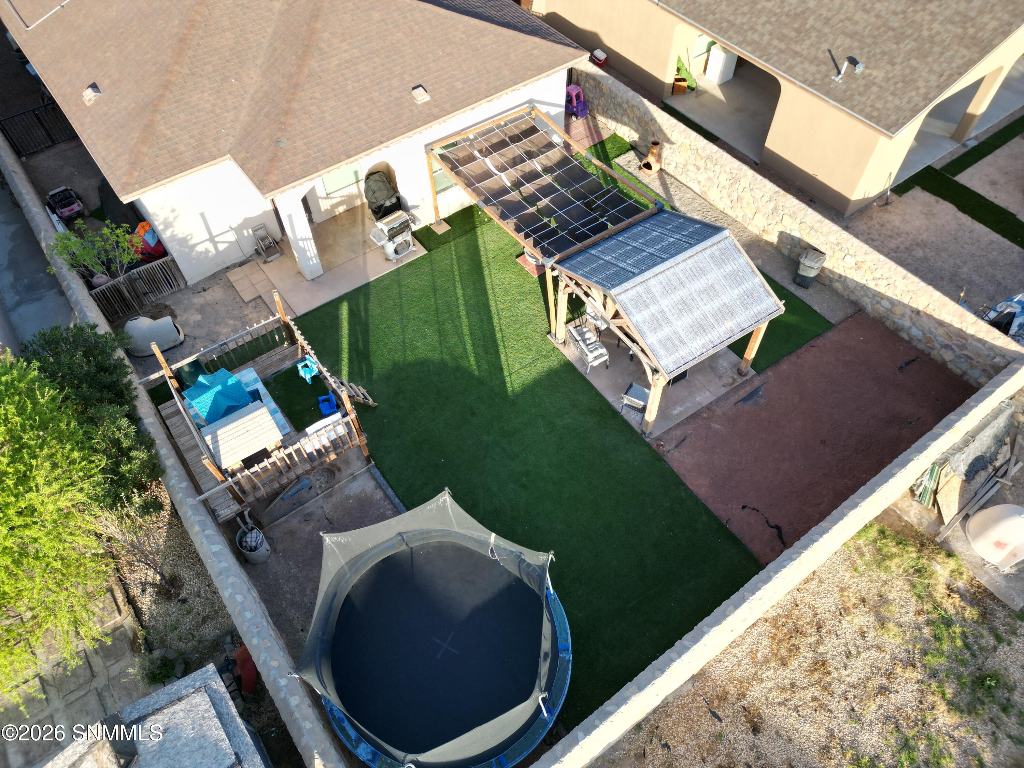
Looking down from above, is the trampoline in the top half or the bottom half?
bottom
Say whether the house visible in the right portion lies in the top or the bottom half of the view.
top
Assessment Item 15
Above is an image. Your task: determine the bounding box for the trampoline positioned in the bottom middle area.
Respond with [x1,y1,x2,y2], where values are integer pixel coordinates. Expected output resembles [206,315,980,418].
[288,486,574,768]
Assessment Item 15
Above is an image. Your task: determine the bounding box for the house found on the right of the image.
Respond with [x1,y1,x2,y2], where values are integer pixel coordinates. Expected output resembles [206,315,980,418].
[511,0,1024,216]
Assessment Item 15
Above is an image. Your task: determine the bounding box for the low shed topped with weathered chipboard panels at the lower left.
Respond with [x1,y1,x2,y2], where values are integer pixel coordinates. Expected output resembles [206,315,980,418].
[49,658,301,768]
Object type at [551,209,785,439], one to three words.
gazebo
